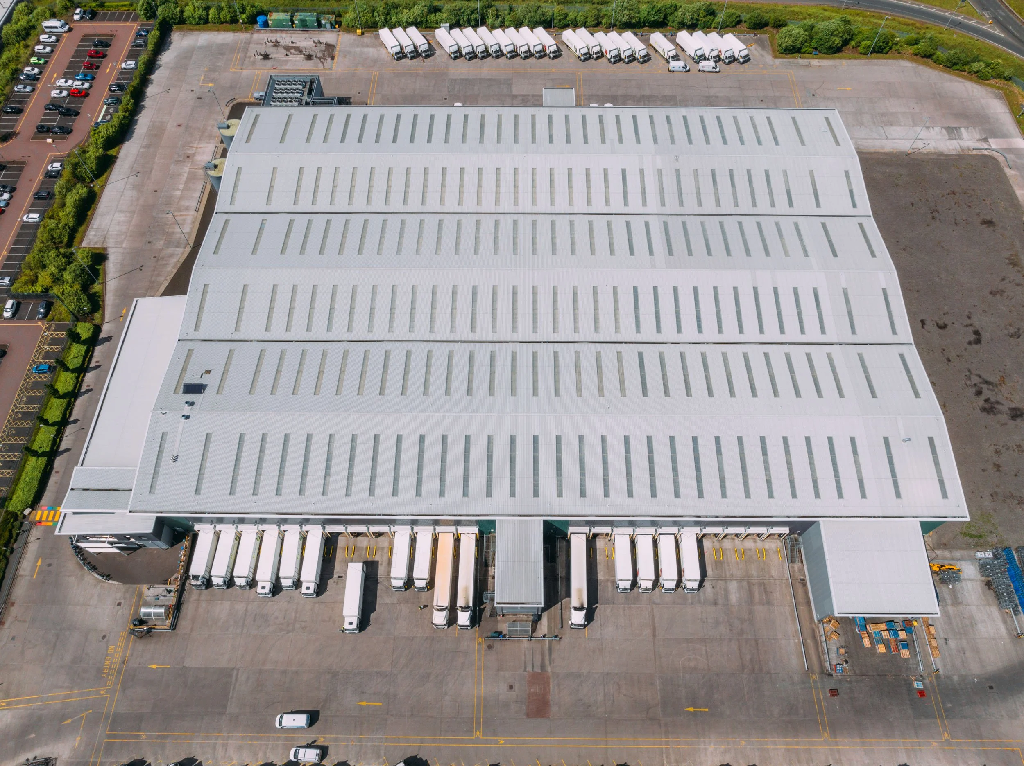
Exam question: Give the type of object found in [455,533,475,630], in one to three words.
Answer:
vehicle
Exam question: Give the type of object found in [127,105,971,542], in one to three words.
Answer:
warehouse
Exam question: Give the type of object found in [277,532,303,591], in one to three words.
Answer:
truck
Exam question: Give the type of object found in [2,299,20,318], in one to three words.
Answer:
car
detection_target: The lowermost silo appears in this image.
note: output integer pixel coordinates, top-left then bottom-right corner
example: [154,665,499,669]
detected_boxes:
[204,159,226,195]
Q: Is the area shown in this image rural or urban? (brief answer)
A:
urban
